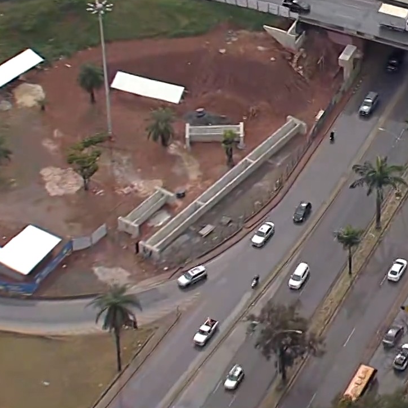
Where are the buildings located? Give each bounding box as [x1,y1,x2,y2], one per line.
[0,48,43,86]
[112,72,184,116]
[0,225,61,284]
